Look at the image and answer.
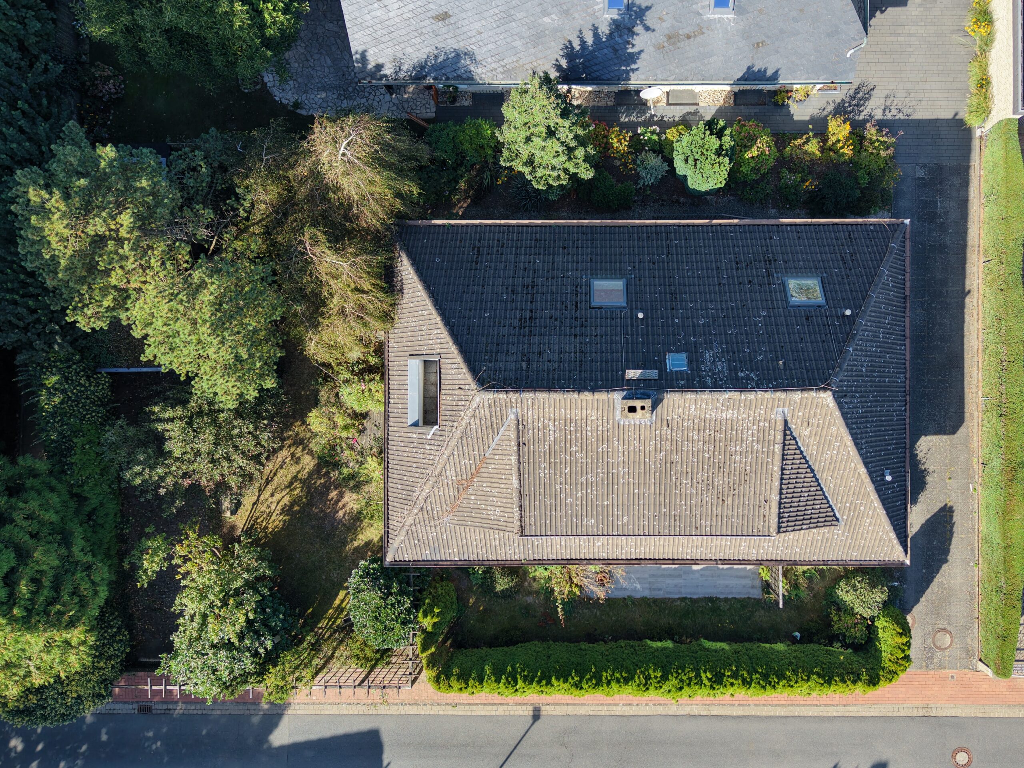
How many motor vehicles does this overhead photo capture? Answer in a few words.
0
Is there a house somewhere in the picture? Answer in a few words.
Yes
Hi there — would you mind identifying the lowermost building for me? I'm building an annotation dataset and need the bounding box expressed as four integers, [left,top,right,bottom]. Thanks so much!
[385,220,912,566]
